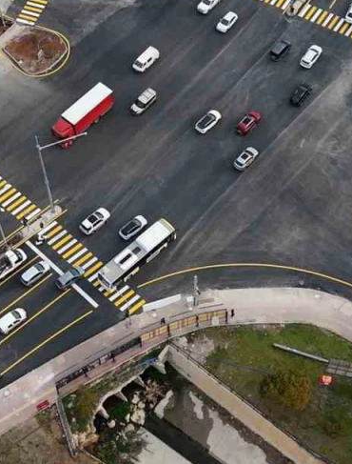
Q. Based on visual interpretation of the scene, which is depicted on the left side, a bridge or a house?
bridge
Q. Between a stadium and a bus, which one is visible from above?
bus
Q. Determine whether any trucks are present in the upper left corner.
Yes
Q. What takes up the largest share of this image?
paved ground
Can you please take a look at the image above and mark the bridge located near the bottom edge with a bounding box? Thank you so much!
[63,341,175,454]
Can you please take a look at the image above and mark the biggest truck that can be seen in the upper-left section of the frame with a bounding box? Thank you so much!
[48,82,115,146]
